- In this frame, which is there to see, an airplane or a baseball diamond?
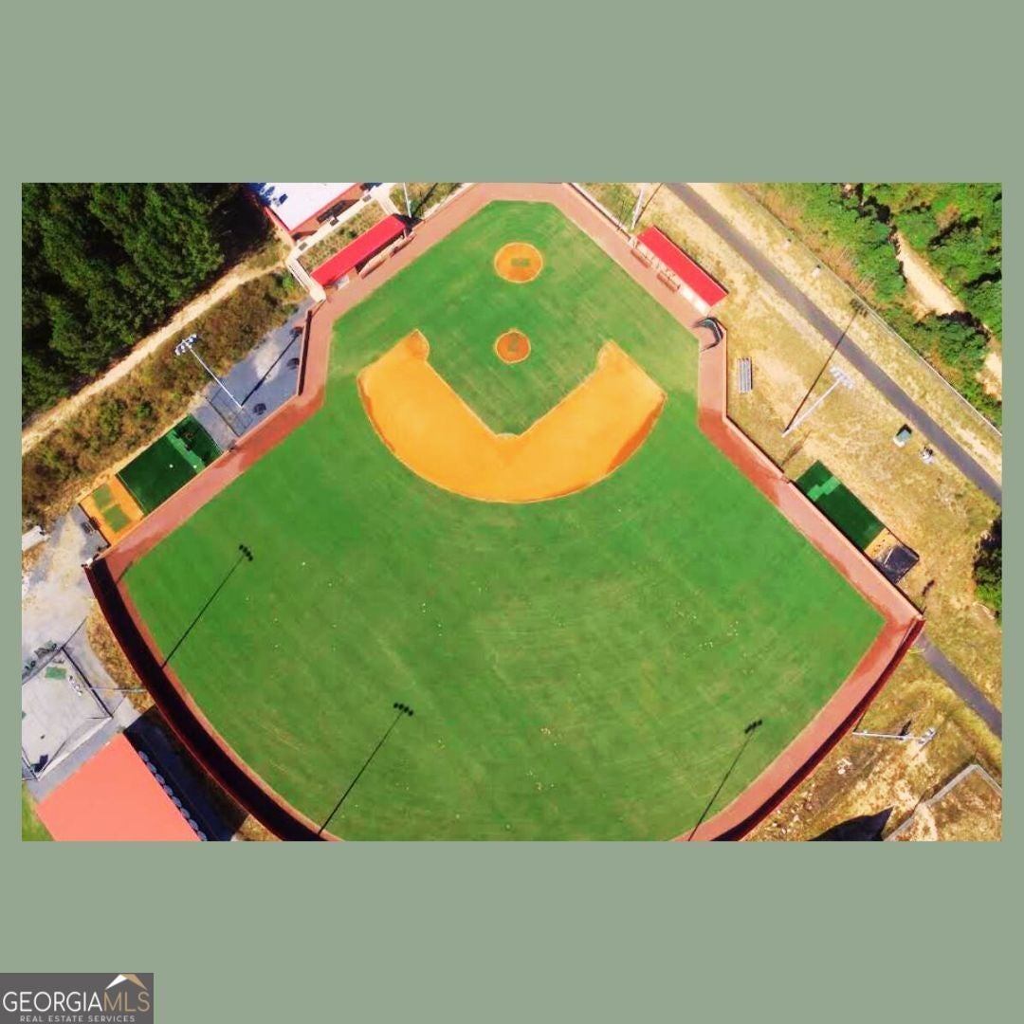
baseball diamond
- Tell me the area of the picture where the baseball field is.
center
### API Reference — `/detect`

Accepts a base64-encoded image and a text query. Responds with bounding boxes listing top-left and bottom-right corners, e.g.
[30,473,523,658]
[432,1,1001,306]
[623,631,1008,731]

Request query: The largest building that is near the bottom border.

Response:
[36,733,273,1001]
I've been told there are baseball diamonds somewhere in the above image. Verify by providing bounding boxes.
[96,182,924,925]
